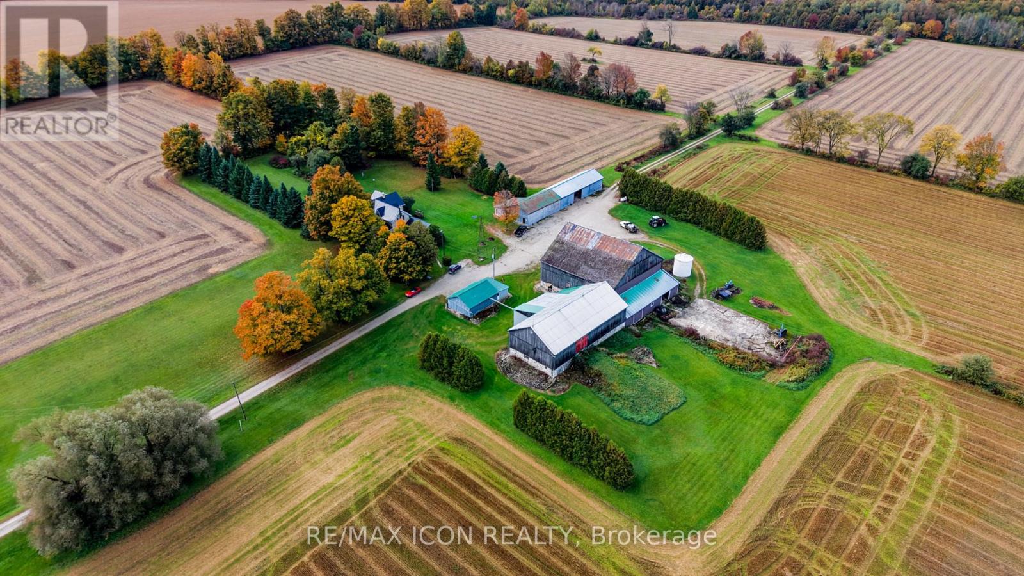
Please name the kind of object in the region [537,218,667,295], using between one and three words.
barn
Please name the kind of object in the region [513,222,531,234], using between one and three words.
vehicle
